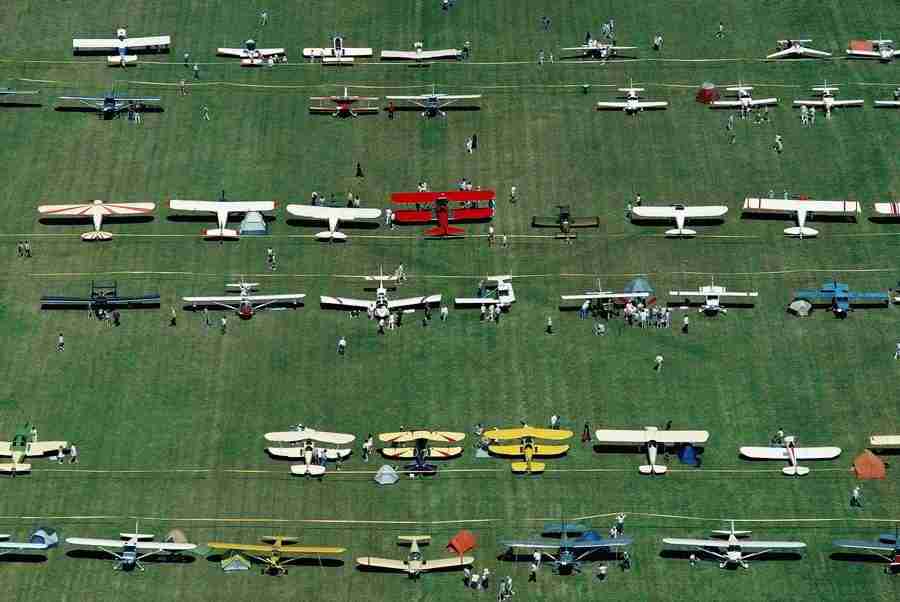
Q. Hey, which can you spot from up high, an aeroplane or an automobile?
aeroplane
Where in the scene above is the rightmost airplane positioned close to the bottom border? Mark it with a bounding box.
[832,526,900,574]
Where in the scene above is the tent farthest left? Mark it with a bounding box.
[26,529,60,548]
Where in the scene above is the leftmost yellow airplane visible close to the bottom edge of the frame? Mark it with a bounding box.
[207,526,345,575]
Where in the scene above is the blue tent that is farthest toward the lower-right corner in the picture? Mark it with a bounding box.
[679,445,699,464]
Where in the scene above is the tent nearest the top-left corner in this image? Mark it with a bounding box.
[240,212,266,235]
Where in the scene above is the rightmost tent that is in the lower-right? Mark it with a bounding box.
[854,454,884,478]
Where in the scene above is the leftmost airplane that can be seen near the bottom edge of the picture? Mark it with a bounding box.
[0,535,47,572]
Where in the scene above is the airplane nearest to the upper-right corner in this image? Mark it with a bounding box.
[846,32,900,62]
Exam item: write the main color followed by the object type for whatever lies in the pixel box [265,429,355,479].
white airplane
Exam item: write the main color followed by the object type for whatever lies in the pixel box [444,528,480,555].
red tent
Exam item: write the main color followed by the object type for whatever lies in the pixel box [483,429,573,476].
yellow airplane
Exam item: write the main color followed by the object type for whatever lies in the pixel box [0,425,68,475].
white airplane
